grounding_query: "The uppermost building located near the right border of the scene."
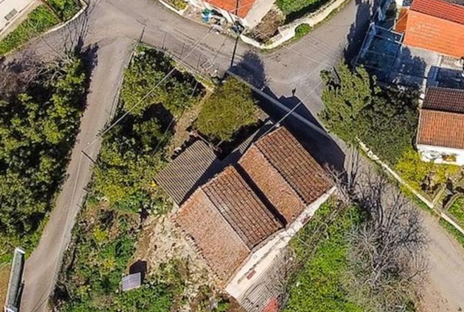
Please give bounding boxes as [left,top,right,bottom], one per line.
[405,0,464,63]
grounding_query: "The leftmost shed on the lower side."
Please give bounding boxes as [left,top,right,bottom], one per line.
[122,272,148,293]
